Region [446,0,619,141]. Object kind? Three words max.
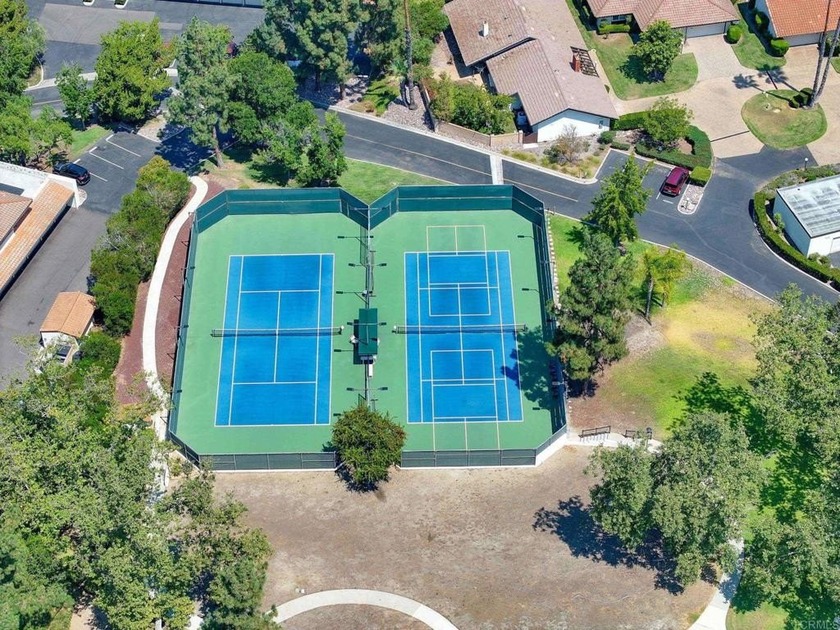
house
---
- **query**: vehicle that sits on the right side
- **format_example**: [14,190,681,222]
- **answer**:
[663,166,689,199]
